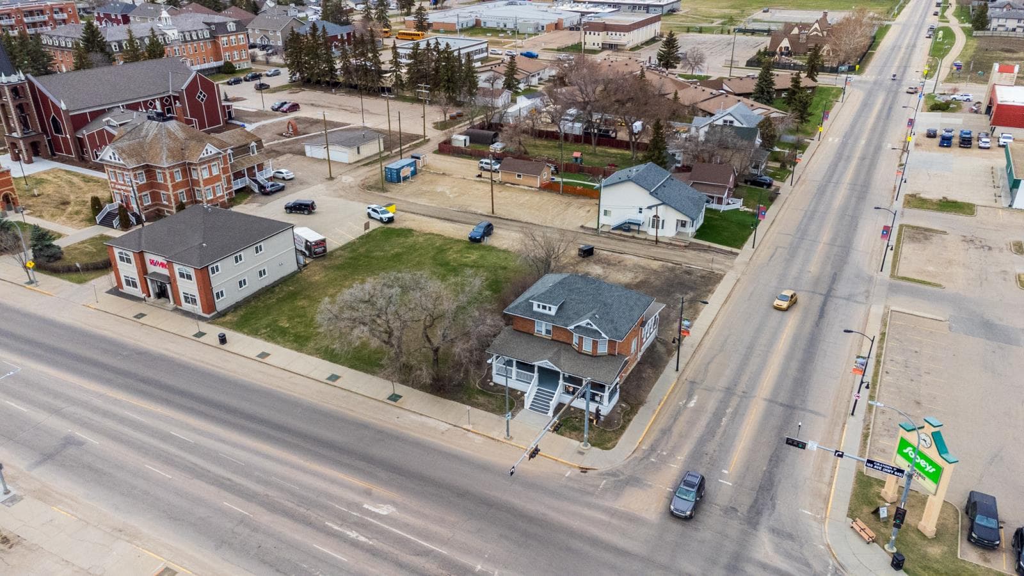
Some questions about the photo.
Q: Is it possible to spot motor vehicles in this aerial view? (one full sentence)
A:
Yes, a motor vehicle appears in the view.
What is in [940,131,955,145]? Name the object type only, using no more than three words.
vehicle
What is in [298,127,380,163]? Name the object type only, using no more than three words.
building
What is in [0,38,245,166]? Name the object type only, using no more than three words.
church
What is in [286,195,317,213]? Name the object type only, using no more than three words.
car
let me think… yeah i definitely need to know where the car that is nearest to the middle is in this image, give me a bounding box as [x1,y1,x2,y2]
[467,218,497,239]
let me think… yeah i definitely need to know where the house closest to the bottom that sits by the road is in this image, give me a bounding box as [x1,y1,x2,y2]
[482,271,675,420]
